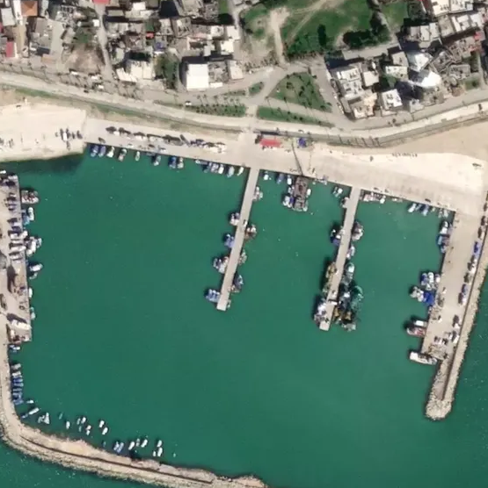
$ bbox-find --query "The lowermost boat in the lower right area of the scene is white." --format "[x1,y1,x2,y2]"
[410,352,439,365]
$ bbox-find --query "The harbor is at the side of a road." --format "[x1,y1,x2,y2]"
[0,101,488,360]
